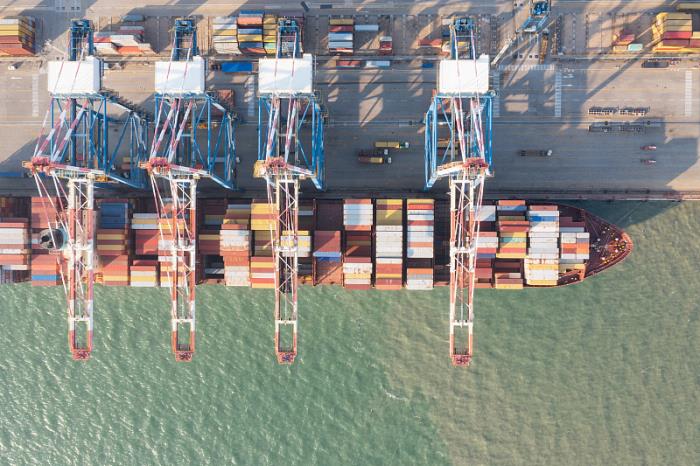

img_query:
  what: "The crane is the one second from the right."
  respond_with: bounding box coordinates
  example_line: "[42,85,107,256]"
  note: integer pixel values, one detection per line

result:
[416,18,494,363]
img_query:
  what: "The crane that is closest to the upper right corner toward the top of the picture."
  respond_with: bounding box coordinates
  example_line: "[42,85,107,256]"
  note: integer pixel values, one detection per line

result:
[518,0,554,35]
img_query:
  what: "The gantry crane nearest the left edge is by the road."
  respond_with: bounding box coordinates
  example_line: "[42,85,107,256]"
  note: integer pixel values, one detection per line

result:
[20,18,150,363]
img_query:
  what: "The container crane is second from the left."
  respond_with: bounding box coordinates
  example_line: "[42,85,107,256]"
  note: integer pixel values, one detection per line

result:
[139,18,239,363]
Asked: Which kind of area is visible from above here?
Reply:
port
